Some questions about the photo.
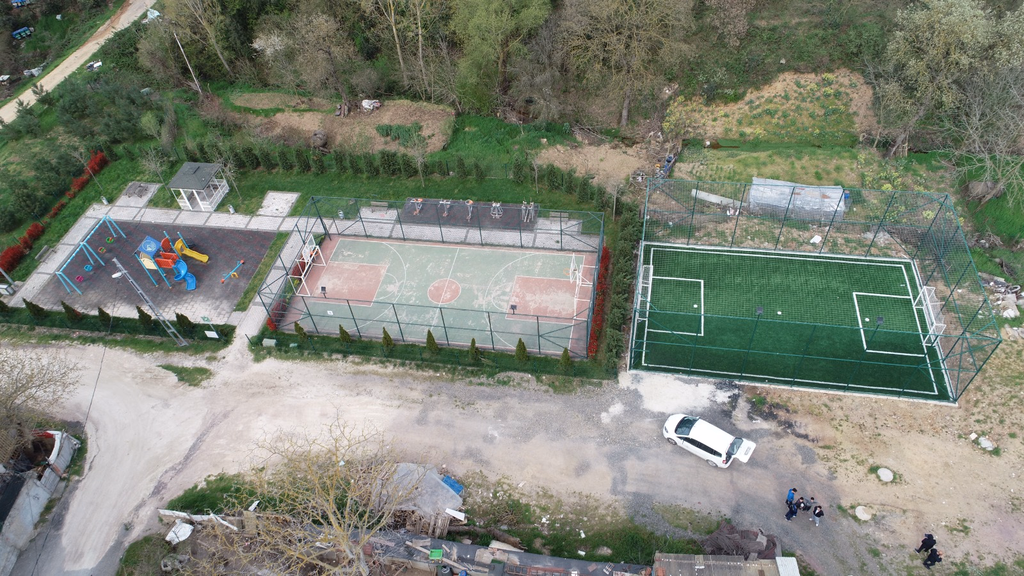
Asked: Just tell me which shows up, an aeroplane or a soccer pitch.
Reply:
soccer pitch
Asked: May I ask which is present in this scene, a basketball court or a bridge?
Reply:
basketball court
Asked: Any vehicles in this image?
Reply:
Yes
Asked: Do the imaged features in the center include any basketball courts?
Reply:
Yes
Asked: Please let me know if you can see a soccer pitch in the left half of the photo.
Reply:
No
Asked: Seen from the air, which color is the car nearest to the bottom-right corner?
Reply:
white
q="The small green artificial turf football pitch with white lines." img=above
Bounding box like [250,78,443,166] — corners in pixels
[628,239,959,405]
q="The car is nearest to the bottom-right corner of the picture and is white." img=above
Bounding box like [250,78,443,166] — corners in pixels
[661,414,758,469]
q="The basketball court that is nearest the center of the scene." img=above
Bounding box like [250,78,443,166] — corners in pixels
[274,230,602,362]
